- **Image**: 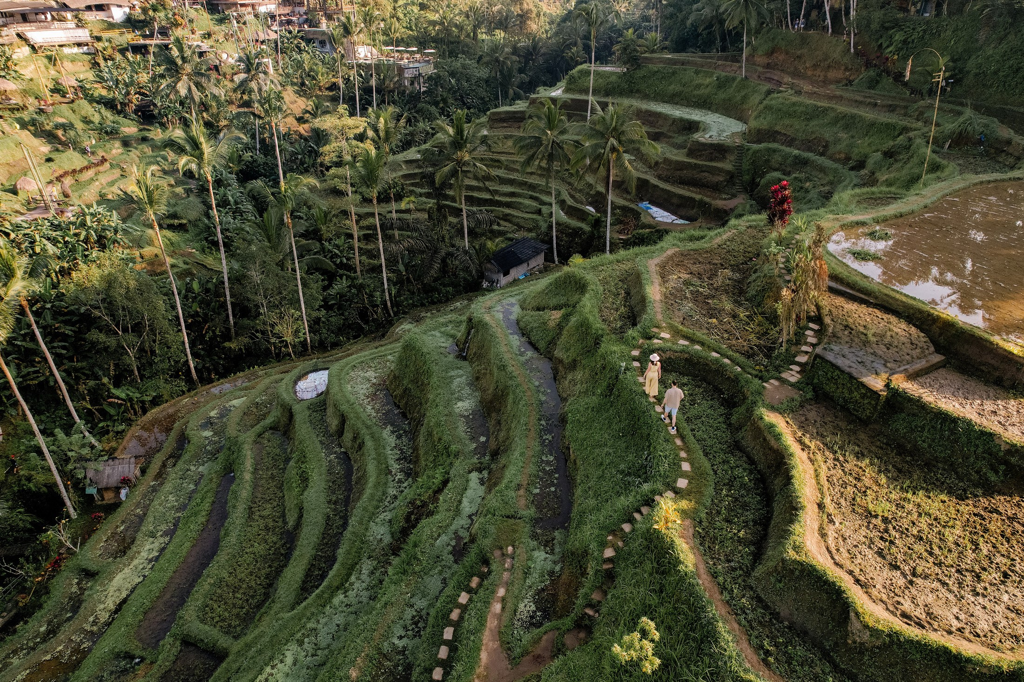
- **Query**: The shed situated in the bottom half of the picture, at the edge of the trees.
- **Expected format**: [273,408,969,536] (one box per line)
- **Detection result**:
[83,457,140,504]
